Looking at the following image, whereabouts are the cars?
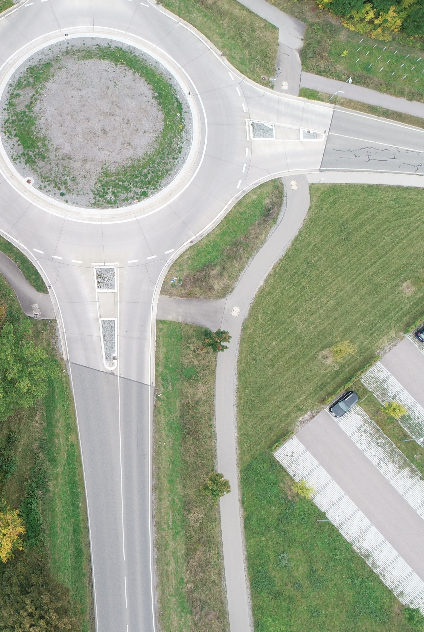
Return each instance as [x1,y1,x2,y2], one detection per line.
[414,325,424,342]
[329,391,360,417]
